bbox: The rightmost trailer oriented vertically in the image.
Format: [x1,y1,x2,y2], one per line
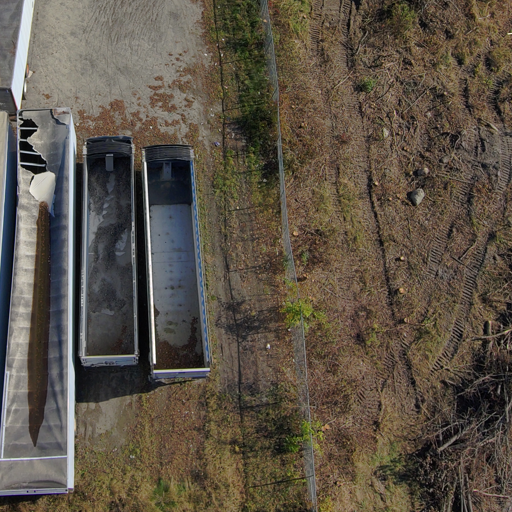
[141,136,218,386]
